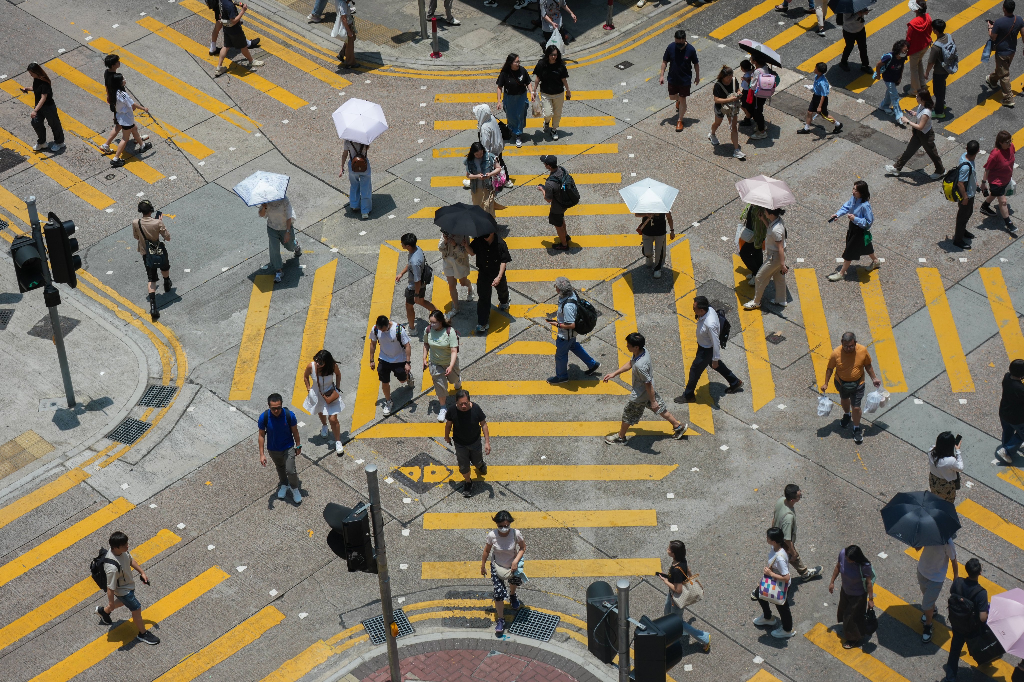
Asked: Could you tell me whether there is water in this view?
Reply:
No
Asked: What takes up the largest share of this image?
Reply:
paved ground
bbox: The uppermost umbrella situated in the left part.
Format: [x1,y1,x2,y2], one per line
[331,96,390,144]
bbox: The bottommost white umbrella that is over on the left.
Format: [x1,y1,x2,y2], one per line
[234,170,294,211]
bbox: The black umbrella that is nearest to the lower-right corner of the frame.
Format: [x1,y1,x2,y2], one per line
[879,487,964,562]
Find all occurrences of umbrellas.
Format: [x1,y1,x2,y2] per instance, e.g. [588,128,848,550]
[735,175,797,229]
[331,96,390,144]
[982,587,1024,653]
[433,197,500,253]
[234,170,294,211]
[827,0,878,14]
[617,177,679,211]
[879,487,964,562]
[735,48,789,69]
